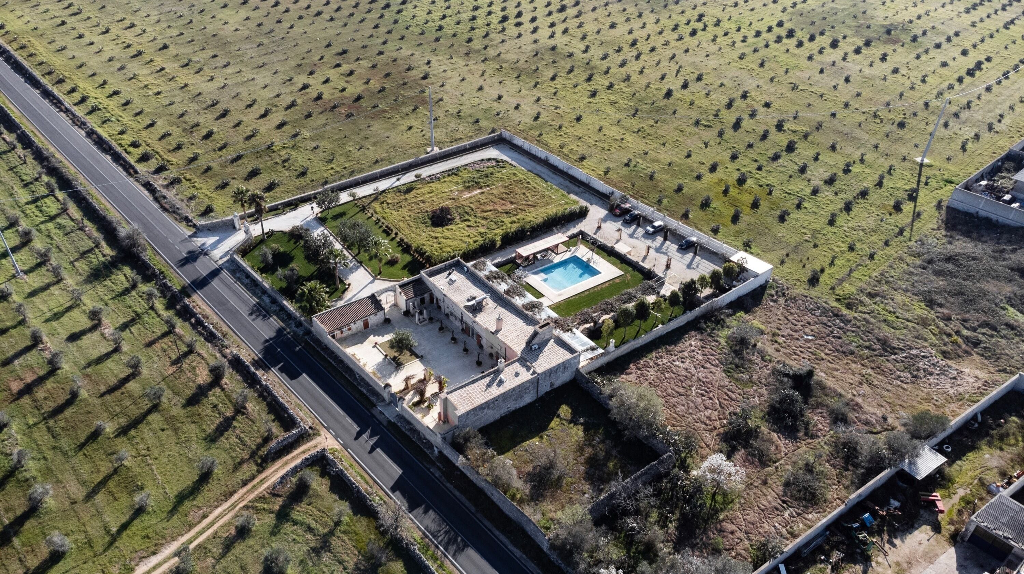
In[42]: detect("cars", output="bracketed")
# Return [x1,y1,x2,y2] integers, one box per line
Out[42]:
[625,211,644,223]
[647,221,666,234]
[613,204,631,215]
[678,237,698,250]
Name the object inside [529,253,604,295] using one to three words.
swimming pool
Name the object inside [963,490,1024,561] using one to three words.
barn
